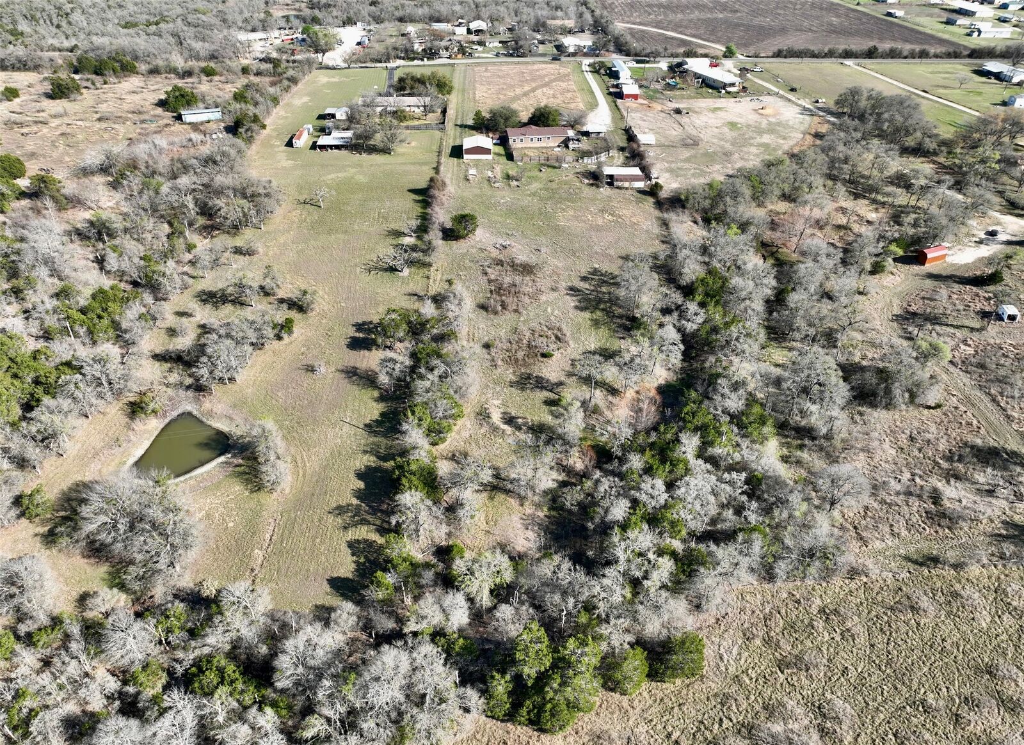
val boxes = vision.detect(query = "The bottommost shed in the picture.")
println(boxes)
[914,243,951,265]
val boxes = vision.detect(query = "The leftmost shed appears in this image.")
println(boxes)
[179,103,222,122]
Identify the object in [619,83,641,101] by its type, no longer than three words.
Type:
shed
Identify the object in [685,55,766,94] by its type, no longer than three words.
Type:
house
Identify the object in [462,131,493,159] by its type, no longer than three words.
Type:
building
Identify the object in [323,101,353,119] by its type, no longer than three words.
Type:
shed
